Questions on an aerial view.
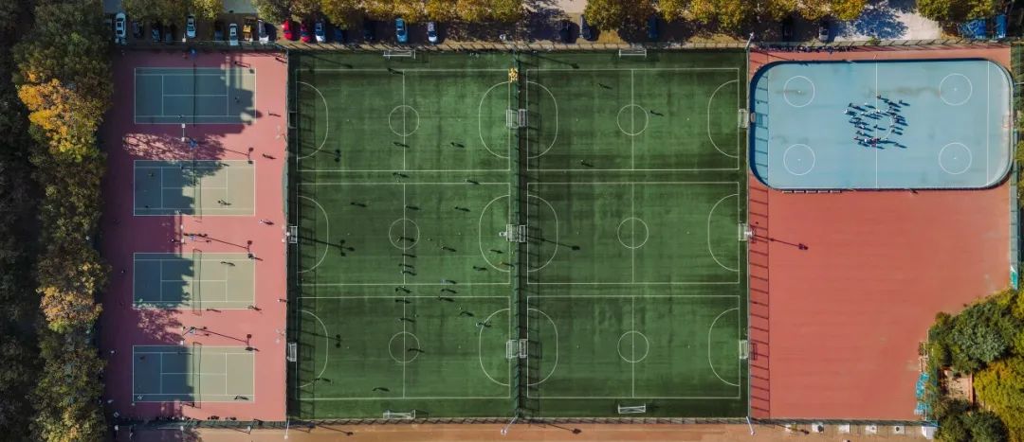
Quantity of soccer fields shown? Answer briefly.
6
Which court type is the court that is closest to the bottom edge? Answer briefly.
tennis court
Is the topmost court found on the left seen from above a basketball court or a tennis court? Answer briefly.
tennis court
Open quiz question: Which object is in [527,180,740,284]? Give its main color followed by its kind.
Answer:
green soccer field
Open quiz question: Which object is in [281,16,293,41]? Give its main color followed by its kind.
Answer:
red vehicle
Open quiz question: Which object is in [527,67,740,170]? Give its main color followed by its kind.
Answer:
green soccer field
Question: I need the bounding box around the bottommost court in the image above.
[134,341,255,409]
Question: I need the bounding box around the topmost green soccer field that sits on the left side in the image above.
[297,68,509,171]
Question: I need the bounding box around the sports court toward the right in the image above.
[752,58,1017,192]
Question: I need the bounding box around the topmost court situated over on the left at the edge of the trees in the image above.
[134,61,255,129]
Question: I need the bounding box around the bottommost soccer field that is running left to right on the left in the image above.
[297,295,509,400]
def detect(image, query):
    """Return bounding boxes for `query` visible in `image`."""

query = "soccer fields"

[527,180,740,284]
[297,68,509,171]
[527,67,740,170]
[297,295,509,400]
[297,181,509,284]
[527,295,740,399]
